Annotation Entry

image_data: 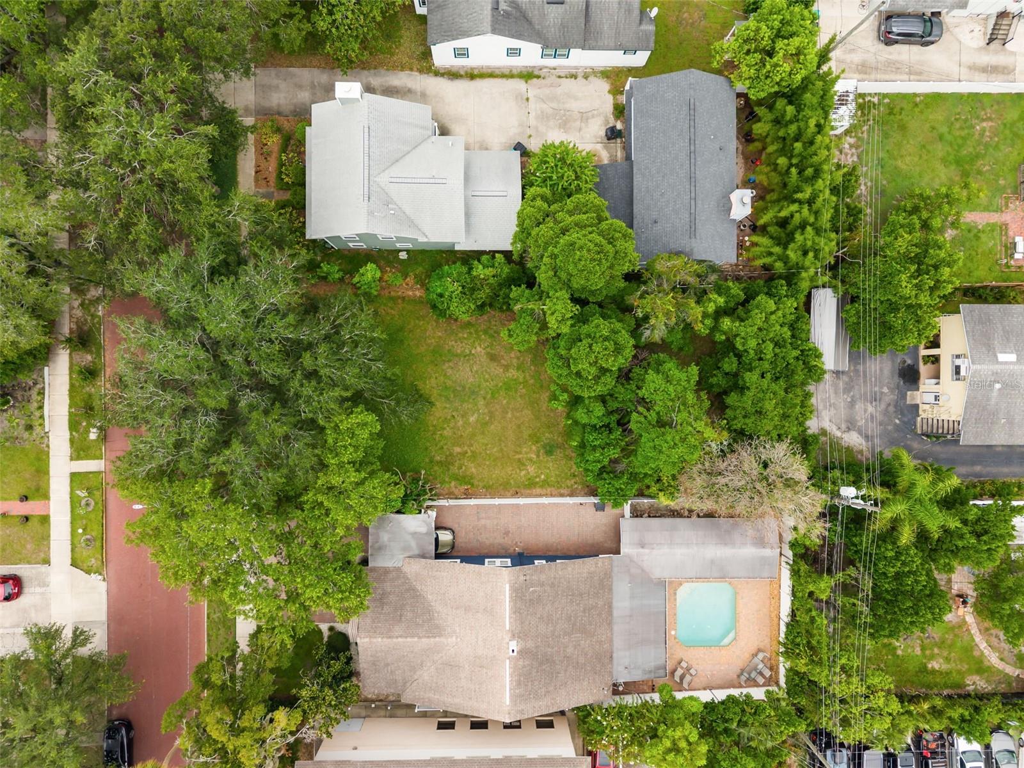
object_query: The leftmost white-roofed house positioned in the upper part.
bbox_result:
[305,81,520,253]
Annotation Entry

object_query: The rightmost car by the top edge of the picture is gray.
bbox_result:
[883,11,947,45]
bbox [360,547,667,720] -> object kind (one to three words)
house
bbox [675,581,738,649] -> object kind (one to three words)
swimming pool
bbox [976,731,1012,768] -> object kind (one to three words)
car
